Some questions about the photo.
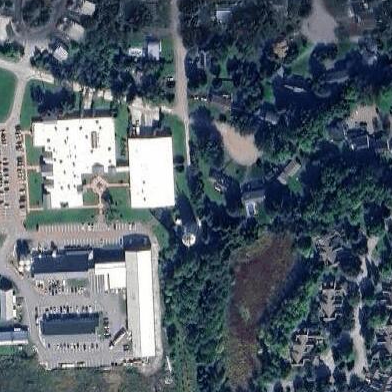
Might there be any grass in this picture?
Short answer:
Yes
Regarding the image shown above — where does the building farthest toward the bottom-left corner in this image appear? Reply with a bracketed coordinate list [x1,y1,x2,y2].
[0,329,27,345]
